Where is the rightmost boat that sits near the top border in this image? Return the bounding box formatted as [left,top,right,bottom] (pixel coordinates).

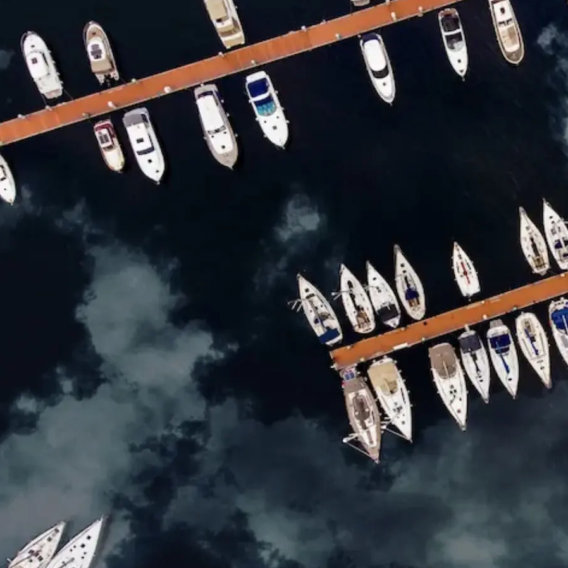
[488,0,523,67]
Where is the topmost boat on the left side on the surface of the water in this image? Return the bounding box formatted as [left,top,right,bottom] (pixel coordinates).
[206,0,245,50]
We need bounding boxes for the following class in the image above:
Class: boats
[24,29,64,101]
[291,271,340,348]
[450,239,480,299]
[95,119,126,175]
[548,298,568,370]
[202,83,242,173]
[517,204,549,276]
[540,196,568,270]
[459,330,491,407]
[42,512,109,568]
[354,0,371,8]
[335,261,373,334]
[372,358,418,445]
[206,0,245,50]
[440,8,467,85]
[487,318,522,402]
[126,108,165,187]
[516,312,553,392]
[2,519,68,568]
[488,0,523,67]
[361,32,394,107]
[247,71,290,152]
[341,367,358,385]
[342,376,386,465]
[87,19,122,85]
[427,341,472,434]
[0,155,17,206]
[392,242,425,321]
[362,258,399,329]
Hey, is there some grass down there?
No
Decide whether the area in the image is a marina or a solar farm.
marina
